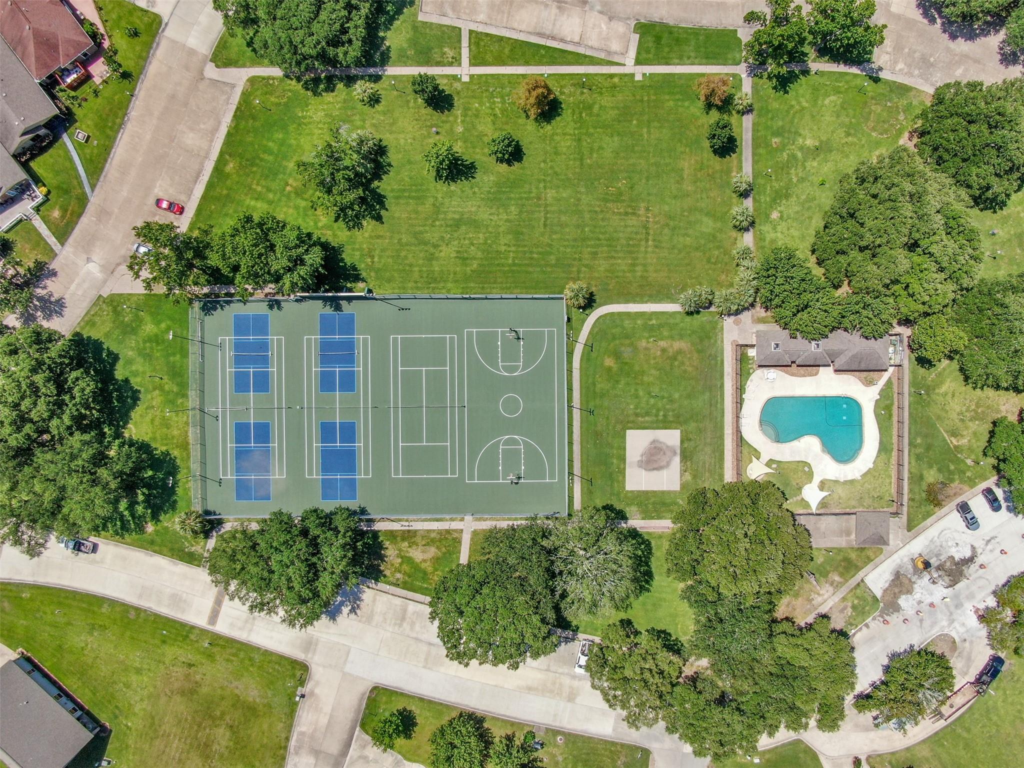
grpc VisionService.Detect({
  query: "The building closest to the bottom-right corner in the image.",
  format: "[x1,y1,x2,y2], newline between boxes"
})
[850,510,890,546]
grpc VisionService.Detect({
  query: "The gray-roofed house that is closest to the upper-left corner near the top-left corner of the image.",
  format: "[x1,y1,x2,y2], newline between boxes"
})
[0,38,67,152]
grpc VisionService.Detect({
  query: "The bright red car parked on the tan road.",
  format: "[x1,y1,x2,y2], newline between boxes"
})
[152,195,183,214]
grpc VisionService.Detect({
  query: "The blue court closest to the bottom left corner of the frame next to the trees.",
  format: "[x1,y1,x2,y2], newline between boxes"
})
[234,421,271,501]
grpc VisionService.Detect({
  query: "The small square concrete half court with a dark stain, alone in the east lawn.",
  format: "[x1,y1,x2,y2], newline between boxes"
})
[626,430,680,490]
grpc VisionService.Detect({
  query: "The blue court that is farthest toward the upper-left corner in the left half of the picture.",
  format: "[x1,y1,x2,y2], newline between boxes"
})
[233,313,270,394]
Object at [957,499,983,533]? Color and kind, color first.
gray truck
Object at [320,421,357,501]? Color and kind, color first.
blue sports court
